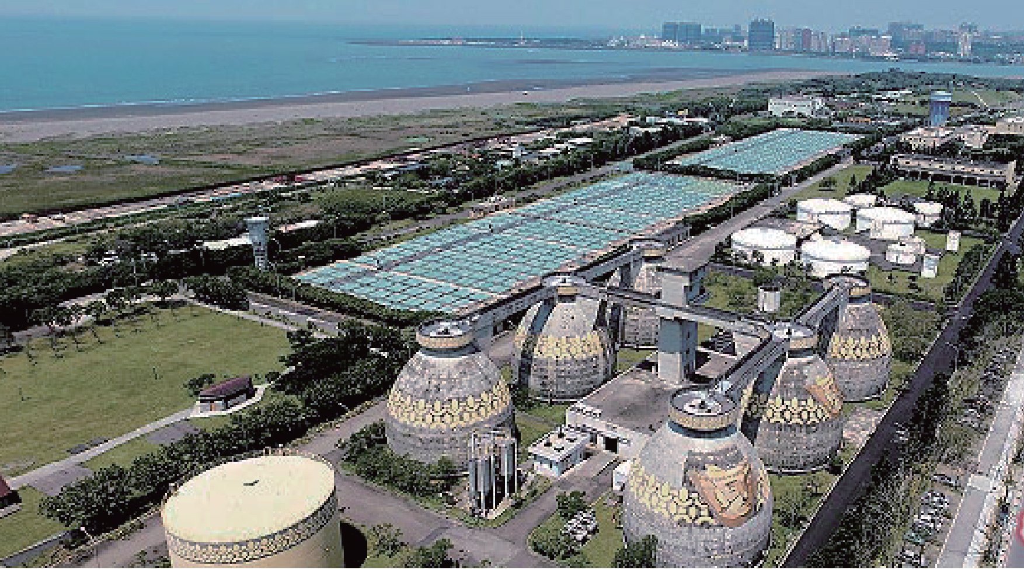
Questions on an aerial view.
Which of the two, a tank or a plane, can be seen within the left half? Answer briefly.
tank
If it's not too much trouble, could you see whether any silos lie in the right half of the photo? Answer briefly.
Yes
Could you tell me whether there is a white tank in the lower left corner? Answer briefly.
Yes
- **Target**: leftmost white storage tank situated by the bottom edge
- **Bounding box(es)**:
[161,443,338,569]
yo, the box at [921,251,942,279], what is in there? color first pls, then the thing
white silo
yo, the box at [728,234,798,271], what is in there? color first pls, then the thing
white storage tank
